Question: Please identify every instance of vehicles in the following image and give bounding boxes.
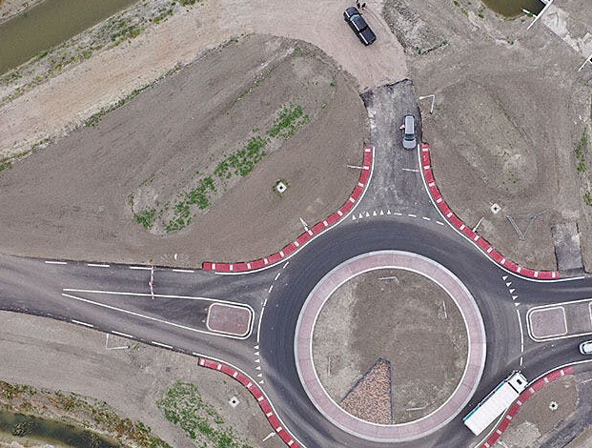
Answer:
[346,6,376,47]
[402,116,417,149]
[461,369,529,437]
[579,340,592,354]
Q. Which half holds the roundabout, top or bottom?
bottom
